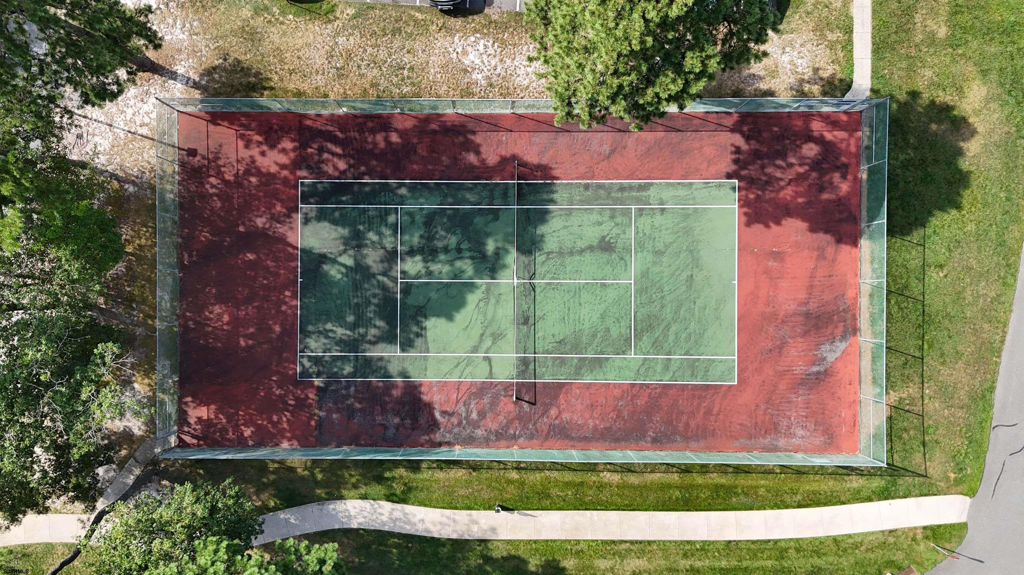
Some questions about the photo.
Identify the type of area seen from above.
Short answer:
sports ground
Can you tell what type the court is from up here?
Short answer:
tennis court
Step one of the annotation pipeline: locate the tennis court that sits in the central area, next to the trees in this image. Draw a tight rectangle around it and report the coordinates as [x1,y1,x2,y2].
[177,111,861,454]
